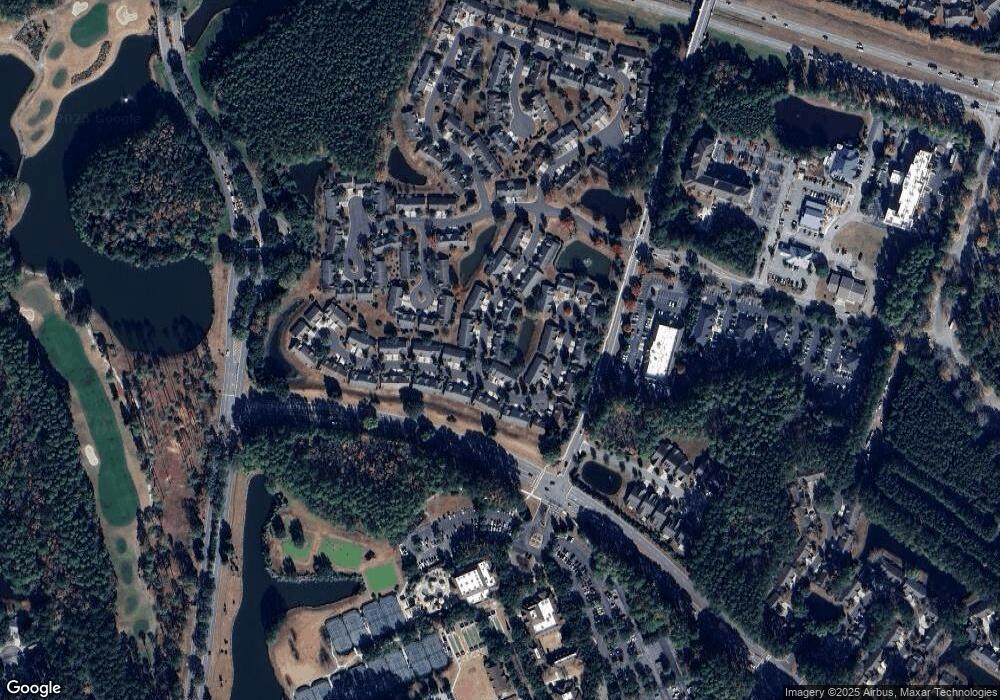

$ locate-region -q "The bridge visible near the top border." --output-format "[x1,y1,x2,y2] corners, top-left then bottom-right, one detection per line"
[685,0,711,58]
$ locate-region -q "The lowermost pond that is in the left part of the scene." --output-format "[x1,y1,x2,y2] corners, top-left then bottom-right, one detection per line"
[229,474,365,700]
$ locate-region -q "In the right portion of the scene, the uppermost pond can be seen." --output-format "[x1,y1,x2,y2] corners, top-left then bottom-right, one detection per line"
[773,95,864,150]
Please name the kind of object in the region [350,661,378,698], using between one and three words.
tennis court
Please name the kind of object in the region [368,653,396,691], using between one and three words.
tennis court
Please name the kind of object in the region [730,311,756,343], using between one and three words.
building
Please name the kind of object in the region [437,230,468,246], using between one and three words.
house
